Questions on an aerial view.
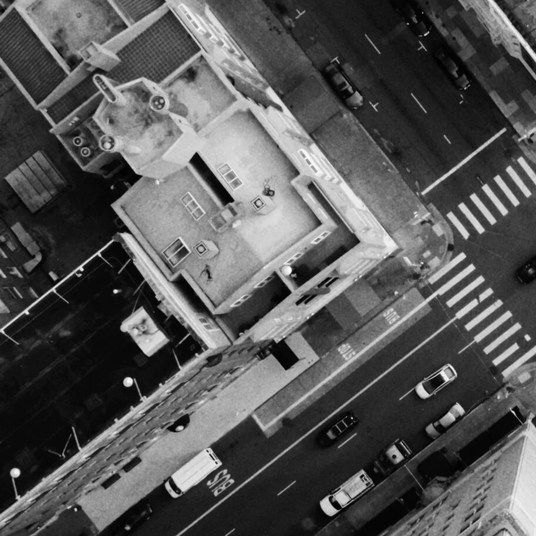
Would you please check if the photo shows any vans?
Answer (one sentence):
Yes, the photo shows a van.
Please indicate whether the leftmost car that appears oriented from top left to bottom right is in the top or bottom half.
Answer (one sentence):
You can find the leftmost car that appears oriented from top left to bottom right in the top half.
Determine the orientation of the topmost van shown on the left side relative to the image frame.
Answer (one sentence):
In this picture, the topmost van shown on the left side is oriented on a diagonal.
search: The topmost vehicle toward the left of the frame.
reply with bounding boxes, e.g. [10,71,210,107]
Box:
[167,449,222,497]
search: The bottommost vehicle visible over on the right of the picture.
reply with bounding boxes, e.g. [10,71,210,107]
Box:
[320,468,375,516]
